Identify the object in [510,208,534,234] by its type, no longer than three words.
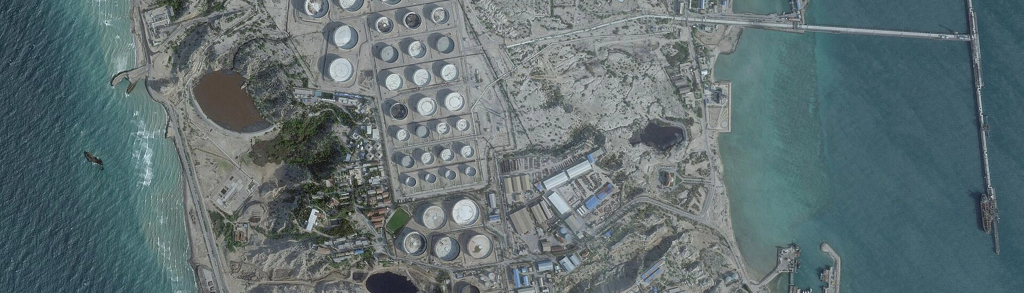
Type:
building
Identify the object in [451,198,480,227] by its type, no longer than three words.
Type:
storage tank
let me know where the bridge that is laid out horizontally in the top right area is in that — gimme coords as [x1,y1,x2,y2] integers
[794,23,972,40]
